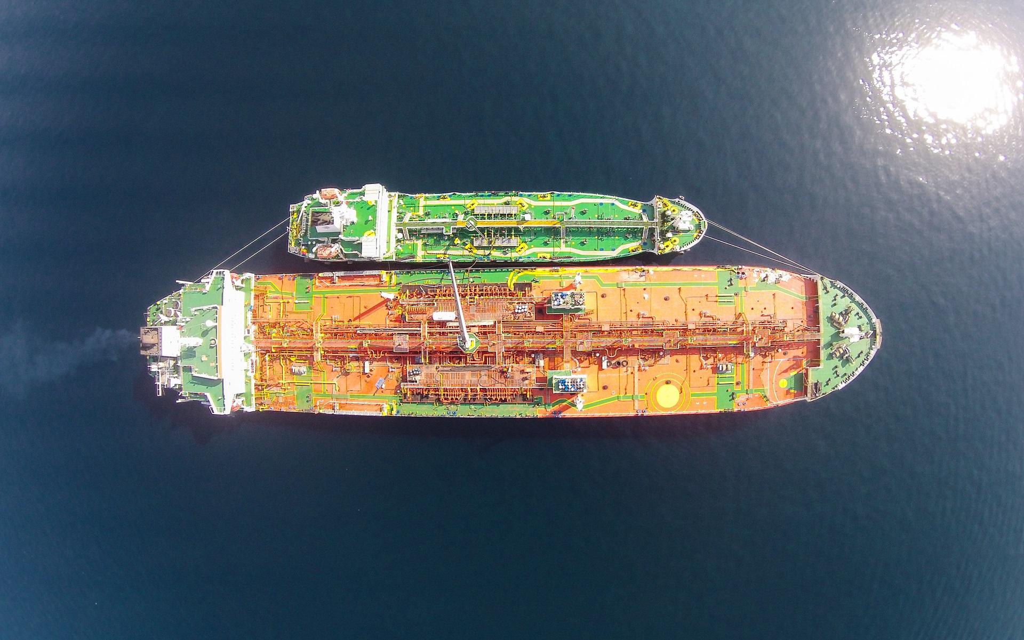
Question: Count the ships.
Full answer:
The number of ships here is 2.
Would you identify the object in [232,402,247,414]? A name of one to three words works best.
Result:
boat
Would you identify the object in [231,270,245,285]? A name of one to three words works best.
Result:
boat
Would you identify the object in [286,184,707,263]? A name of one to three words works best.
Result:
ship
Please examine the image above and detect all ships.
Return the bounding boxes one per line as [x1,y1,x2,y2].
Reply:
[286,184,707,263]
[138,259,883,417]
